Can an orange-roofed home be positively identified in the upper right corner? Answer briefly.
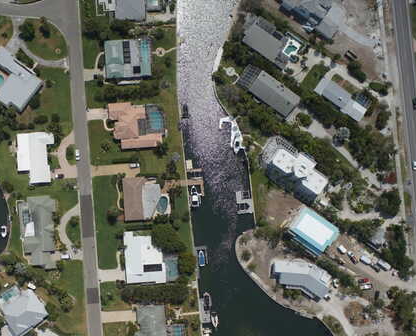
No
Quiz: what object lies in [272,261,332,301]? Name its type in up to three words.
house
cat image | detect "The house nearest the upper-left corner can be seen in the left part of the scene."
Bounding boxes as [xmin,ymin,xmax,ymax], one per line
[0,47,39,114]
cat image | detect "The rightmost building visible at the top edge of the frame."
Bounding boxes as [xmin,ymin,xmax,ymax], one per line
[278,0,339,47]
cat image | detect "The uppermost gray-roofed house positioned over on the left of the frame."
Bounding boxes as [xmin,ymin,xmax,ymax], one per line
[115,0,163,21]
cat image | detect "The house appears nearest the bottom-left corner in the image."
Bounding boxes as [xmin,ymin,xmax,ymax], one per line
[0,285,47,336]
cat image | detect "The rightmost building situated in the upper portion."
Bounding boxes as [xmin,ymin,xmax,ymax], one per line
[314,76,376,124]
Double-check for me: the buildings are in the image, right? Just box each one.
[105,37,152,77]
[115,0,163,21]
[272,261,332,301]
[369,230,389,249]
[0,285,47,336]
[108,103,165,151]
[0,47,39,114]
[236,64,300,116]
[124,232,179,283]
[287,207,340,255]
[134,304,186,336]
[18,196,54,271]
[278,0,339,47]
[242,10,292,69]
[314,76,376,124]
[123,177,159,222]
[15,132,54,184]
[264,136,329,200]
